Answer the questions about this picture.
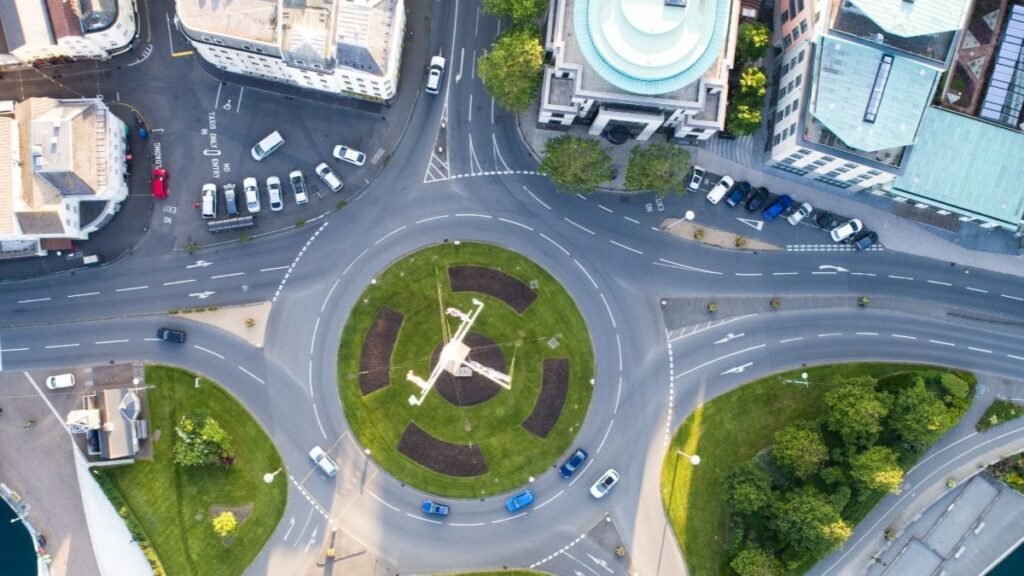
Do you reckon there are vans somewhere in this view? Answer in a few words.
Yes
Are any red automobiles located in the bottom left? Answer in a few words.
No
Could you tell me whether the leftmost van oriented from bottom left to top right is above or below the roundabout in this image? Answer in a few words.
above it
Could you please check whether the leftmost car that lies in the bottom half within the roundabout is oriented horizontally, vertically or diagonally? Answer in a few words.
diagonally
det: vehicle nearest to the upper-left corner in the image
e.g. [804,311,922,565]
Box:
[149,166,167,198]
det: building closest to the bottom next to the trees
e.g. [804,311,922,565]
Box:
[831,464,1024,576]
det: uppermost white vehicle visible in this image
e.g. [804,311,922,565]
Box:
[425,56,444,91]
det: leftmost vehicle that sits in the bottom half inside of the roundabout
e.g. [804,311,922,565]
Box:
[307,445,339,479]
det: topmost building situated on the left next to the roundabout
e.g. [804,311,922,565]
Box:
[172,0,411,105]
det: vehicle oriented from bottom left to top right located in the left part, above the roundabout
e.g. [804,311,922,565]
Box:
[248,128,286,161]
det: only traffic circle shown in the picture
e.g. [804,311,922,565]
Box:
[273,178,660,567]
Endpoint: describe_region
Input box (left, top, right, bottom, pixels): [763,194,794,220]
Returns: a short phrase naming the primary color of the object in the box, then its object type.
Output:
blue car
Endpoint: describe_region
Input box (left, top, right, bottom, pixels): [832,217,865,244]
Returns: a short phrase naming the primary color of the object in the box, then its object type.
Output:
white car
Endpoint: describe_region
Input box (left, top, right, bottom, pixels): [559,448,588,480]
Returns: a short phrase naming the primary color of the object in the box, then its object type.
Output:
blue car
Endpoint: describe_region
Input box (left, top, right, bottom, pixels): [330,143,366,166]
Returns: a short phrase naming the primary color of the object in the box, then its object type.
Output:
white car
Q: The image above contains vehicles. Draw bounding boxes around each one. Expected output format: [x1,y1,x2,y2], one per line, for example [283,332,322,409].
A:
[706,173,736,204]
[788,201,814,226]
[503,490,536,513]
[420,501,449,517]
[263,176,282,211]
[312,161,344,193]
[248,128,286,161]
[589,468,622,501]
[726,178,753,208]
[559,448,588,480]
[307,445,339,479]
[425,56,444,91]
[832,217,865,244]
[745,184,773,214]
[287,170,308,204]
[813,207,840,231]
[149,166,167,198]
[197,182,216,218]
[153,326,187,344]
[854,229,881,252]
[689,165,707,193]
[763,194,794,220]
[240,176,260,212]
[219,183,239,214]
[330,143,366,166]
